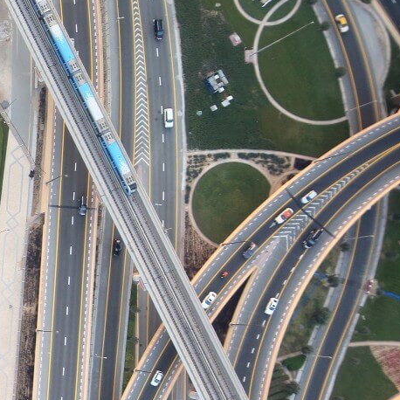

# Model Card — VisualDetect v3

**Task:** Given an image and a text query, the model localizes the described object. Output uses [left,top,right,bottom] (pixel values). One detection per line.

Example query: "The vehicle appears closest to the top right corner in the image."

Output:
[335,15,347,33]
